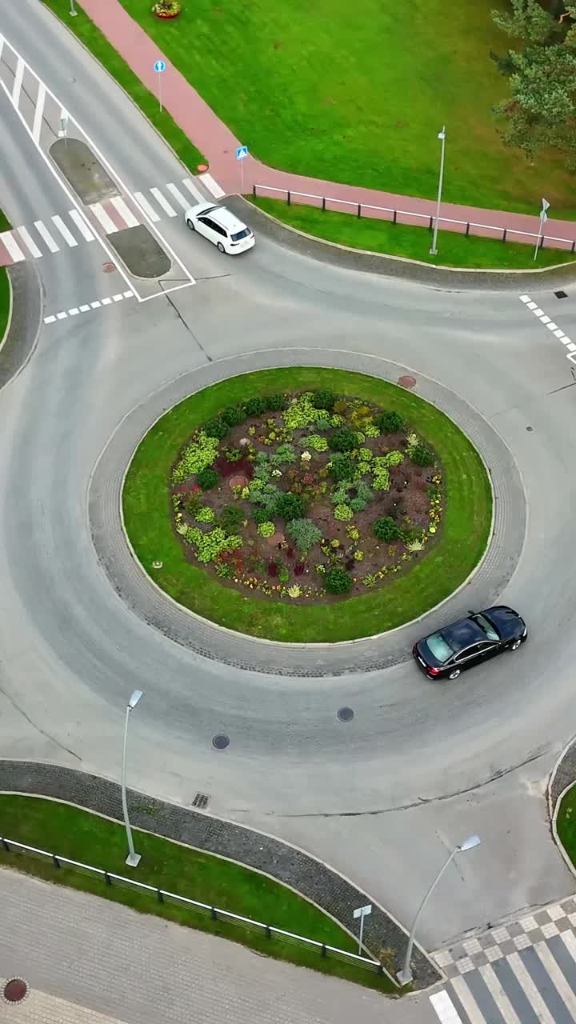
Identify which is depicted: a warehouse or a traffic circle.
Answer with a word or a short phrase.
traffic circle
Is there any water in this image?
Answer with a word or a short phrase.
No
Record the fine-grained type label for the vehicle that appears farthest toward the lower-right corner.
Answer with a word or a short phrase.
car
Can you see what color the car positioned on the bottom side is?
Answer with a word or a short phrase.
black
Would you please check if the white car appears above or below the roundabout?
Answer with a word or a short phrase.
above it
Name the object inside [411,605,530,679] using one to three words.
car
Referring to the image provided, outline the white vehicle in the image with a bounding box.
[185,203,254,253]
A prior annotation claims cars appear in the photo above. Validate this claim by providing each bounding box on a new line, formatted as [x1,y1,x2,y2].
[185,203,254,253]
[411,605,530,679]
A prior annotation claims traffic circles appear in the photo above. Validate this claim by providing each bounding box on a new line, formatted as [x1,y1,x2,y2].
[86,347,527,678]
